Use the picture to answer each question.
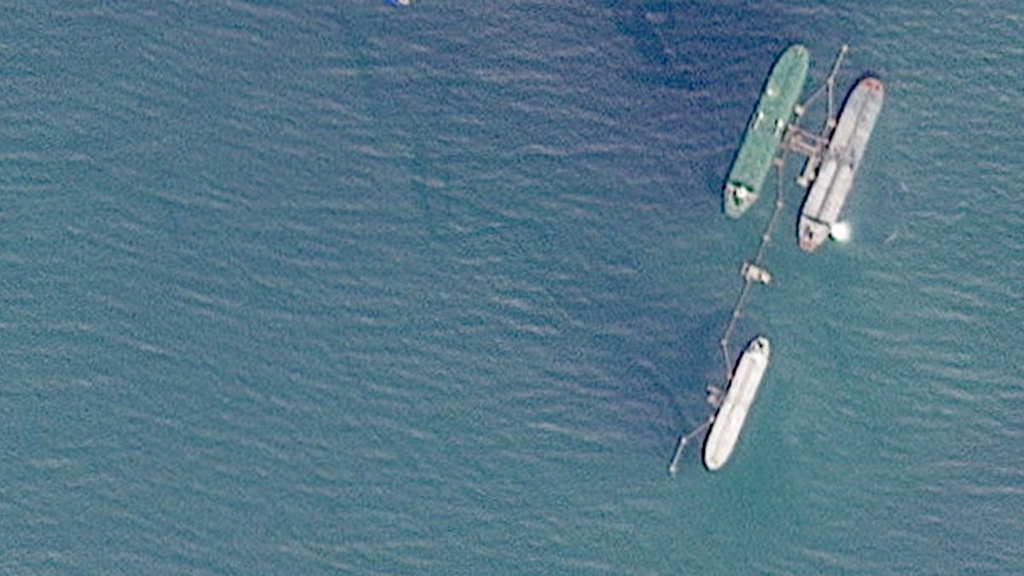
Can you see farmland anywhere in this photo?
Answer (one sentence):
No, the picture contains no farmland.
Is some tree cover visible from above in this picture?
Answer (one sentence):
No, no tree cover is visible.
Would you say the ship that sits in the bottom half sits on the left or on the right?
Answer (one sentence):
It is on the right.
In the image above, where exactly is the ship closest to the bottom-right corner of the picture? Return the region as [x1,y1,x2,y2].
[705,335,771,471]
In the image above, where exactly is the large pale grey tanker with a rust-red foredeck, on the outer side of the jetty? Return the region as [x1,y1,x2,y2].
[799,77,883,253]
